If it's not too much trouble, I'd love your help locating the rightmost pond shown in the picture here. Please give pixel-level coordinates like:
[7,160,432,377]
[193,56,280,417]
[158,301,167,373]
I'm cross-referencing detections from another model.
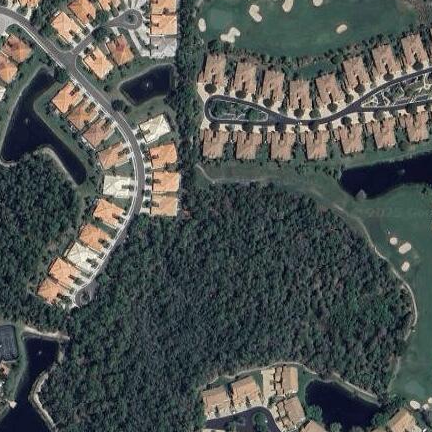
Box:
[306,380,379,432]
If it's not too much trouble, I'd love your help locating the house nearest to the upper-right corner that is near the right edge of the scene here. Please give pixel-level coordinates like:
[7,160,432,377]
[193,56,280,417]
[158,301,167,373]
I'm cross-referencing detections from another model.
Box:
[402,32,428,65]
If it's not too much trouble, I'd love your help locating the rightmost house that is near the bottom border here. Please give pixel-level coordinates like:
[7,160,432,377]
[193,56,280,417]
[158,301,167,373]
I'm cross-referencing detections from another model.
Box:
[384,409,418,432]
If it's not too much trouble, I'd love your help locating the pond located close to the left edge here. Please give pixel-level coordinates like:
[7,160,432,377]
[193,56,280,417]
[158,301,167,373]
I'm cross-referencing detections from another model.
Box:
[0,67,86,184]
